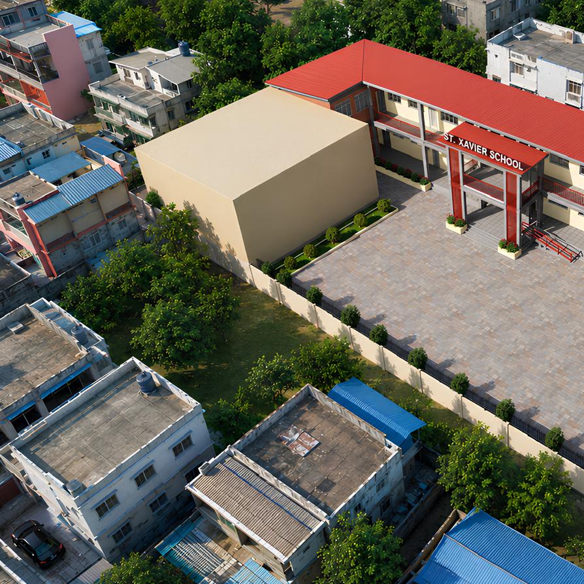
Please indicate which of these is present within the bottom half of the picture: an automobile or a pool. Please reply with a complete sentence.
There is an automobile within the bottom half of the picture.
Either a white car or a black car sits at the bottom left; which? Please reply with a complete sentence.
The feature located at the bottom left is a black car.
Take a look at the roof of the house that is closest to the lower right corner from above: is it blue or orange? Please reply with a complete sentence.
From above, the roof of the house that is closest to the lower right corner appears blue.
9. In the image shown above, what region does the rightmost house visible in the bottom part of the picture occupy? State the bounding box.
[400,507,584,584]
